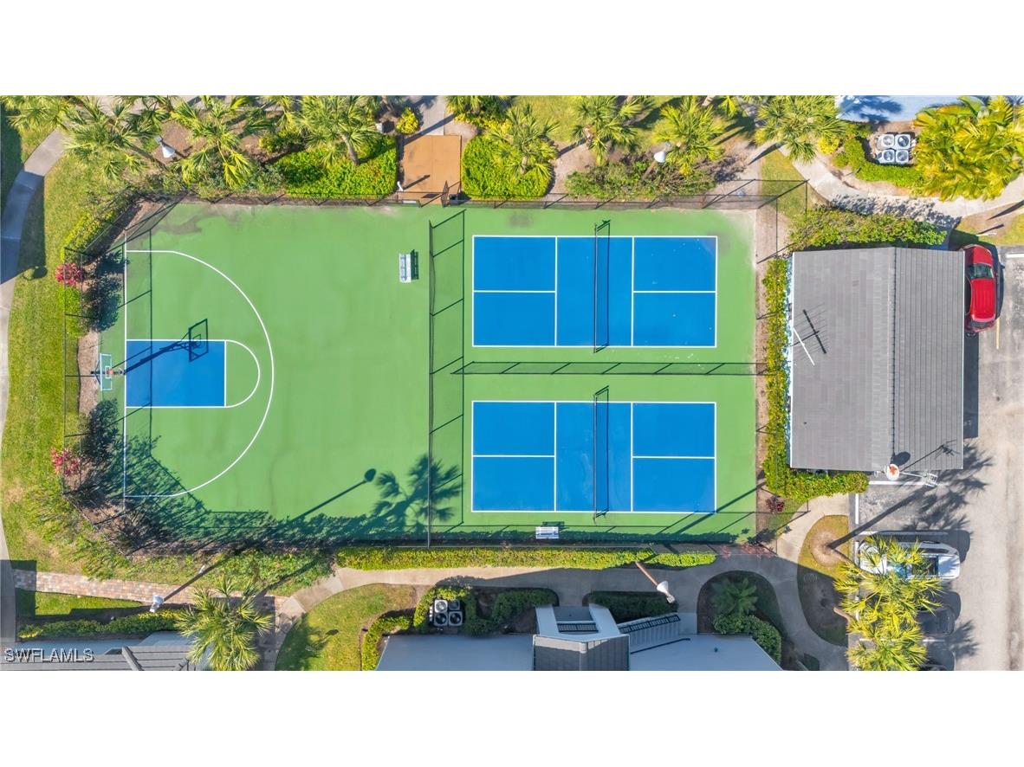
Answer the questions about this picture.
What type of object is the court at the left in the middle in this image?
basketball court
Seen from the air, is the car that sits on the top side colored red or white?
red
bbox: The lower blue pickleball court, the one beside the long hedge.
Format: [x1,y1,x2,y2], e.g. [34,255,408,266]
[433,374,755,541]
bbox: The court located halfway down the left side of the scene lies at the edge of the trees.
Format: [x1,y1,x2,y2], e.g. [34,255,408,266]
[100,204,433,541]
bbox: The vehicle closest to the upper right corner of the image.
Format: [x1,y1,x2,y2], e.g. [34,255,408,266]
[962,249,1001,336]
